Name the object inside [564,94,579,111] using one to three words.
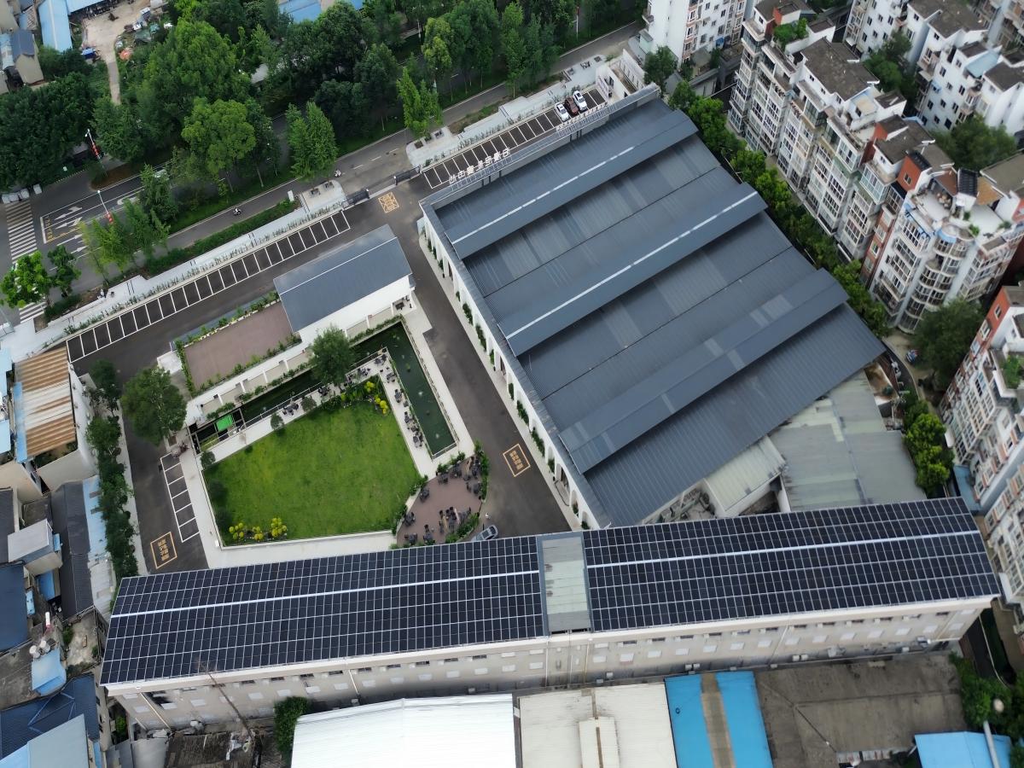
car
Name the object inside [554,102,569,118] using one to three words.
car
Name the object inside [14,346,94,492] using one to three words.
house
